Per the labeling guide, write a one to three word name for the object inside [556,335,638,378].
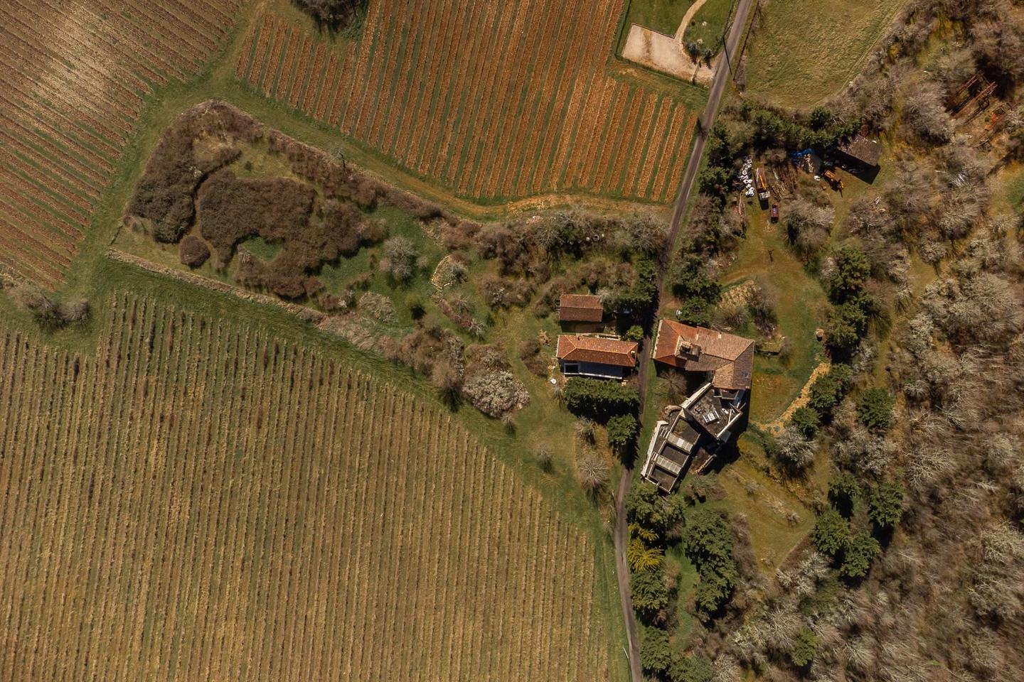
house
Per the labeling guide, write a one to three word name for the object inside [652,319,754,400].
house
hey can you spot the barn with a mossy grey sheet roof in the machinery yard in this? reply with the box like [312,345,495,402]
[833,133,883,167]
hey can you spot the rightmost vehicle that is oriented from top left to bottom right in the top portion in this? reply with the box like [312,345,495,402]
[822,166,845,190]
